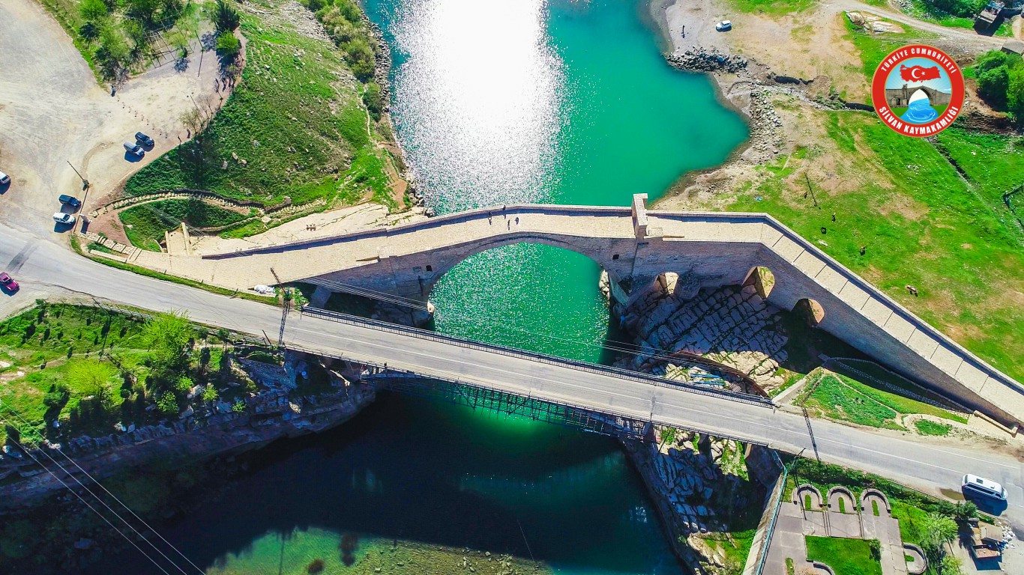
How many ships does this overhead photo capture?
zero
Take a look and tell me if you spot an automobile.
Yes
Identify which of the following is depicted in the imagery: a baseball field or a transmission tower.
transmission tower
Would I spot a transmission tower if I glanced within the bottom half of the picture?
Yes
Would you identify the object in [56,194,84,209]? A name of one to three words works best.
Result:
car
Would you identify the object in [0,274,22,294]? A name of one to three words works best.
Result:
car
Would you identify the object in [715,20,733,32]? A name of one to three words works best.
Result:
vehicle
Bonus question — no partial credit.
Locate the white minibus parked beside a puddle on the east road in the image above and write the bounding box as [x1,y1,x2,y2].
[955,474,1009,504]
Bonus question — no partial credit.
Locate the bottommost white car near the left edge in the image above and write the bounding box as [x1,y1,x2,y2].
[49,210,78,227]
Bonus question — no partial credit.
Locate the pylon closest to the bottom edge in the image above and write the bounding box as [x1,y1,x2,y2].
[797,377,828,411]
